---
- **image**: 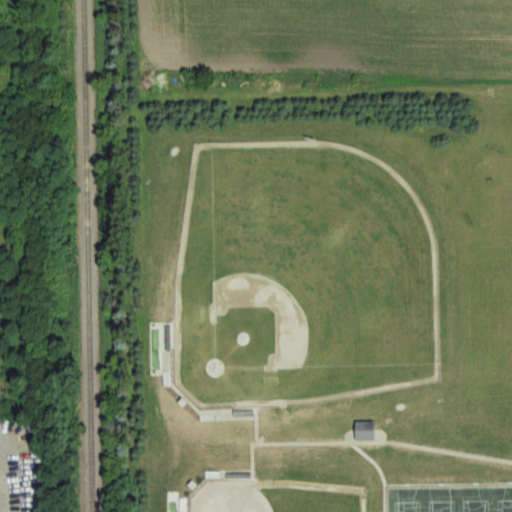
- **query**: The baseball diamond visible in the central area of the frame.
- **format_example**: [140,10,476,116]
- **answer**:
[175,141,440,407]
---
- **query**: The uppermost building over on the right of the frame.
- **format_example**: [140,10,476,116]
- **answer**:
[356,421,374,441]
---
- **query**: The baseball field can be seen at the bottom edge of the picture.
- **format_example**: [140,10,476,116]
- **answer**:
[190,482,366,512]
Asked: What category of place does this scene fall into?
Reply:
sports ground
